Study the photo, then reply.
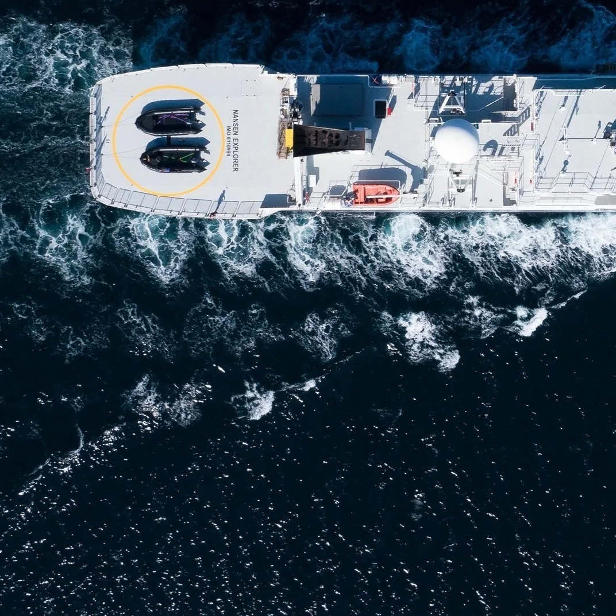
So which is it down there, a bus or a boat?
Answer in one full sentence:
I can see a boat in this picture.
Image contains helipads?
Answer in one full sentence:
Yes, there's a helipad down there.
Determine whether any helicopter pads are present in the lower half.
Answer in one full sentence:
No, I see no helicopter pad in the lower half.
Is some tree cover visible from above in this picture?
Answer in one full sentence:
No, the scene doesn't show any tree cover.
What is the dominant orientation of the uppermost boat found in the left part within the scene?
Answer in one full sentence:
Seen from above, the uppermost boat found in the left part lies from side to side.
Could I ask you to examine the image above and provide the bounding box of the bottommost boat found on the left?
[140,146,210,174]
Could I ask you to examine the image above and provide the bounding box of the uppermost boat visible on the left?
[134,109,206,136]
